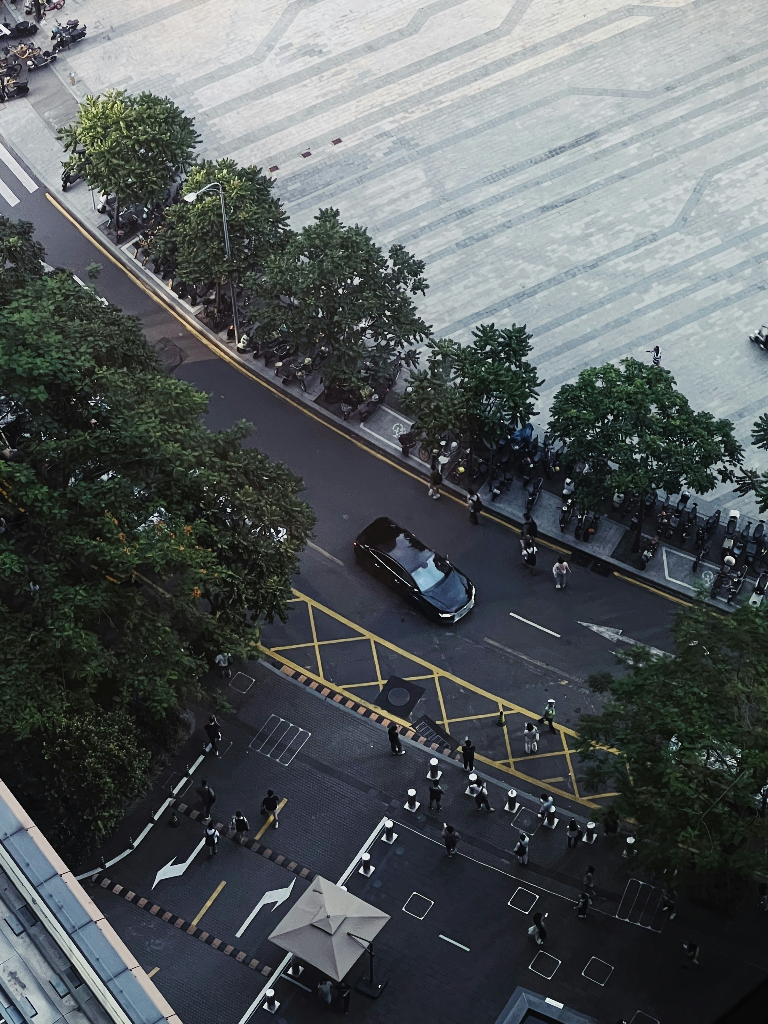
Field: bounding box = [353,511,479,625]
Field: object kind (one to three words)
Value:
car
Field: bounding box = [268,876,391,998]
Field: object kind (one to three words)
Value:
umbrella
